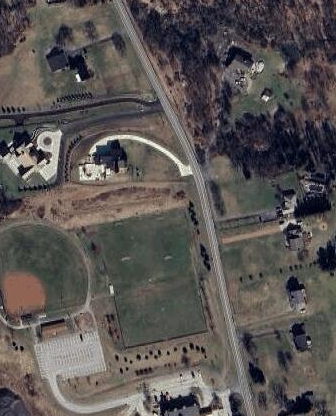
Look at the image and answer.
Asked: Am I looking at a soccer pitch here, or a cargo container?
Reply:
soccer pitch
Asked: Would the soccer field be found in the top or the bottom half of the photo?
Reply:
bottom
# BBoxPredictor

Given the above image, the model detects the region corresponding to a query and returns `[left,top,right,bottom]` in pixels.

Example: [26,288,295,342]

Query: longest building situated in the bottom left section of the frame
[41,321,68,338]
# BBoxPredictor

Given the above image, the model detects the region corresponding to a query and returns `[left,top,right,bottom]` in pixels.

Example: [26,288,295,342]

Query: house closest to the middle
[95,141,128,168]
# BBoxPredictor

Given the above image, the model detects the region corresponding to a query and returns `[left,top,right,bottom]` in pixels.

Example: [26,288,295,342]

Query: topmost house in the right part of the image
[222,48,256,70]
